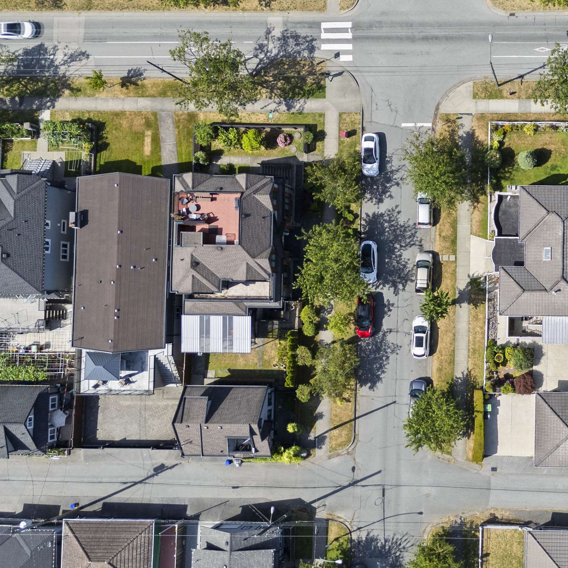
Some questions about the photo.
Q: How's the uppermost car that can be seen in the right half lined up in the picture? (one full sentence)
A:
From this overhead view, the uppermost car that can be seen in the right half appears to run vertically.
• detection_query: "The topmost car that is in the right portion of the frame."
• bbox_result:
[360,133,381,178]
